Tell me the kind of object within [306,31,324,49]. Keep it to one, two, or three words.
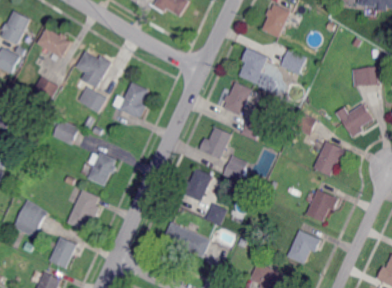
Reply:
swimming pool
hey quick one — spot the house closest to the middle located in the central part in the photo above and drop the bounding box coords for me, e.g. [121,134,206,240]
[200,126,232,159]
